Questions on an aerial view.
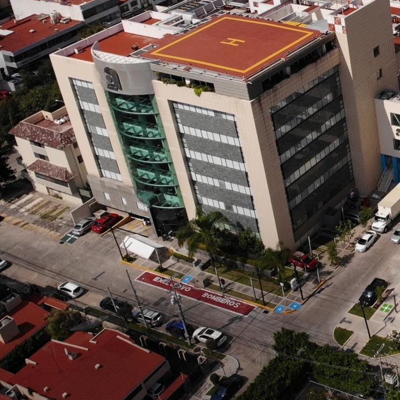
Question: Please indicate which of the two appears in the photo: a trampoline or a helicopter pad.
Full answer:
I can see a helicopter pad in this picture.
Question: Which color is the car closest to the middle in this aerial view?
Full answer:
The car closest to the middle is red.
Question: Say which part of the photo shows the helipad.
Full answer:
The helipad is in the top part of the image.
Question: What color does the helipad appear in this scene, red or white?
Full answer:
From above, the helipad appears red.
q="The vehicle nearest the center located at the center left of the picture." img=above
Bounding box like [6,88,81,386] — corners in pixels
[88,213,124,233]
